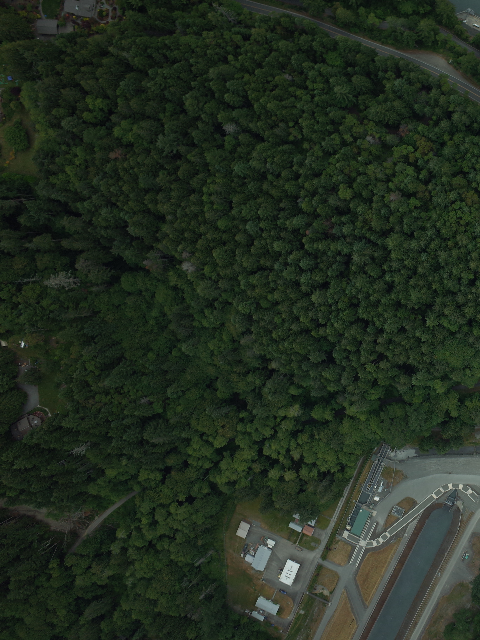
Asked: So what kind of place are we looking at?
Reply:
forest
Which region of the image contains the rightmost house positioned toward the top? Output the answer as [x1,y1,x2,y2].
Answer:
[64,0,97,19]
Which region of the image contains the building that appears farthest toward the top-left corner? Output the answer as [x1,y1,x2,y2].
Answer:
[36,19,60,36]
